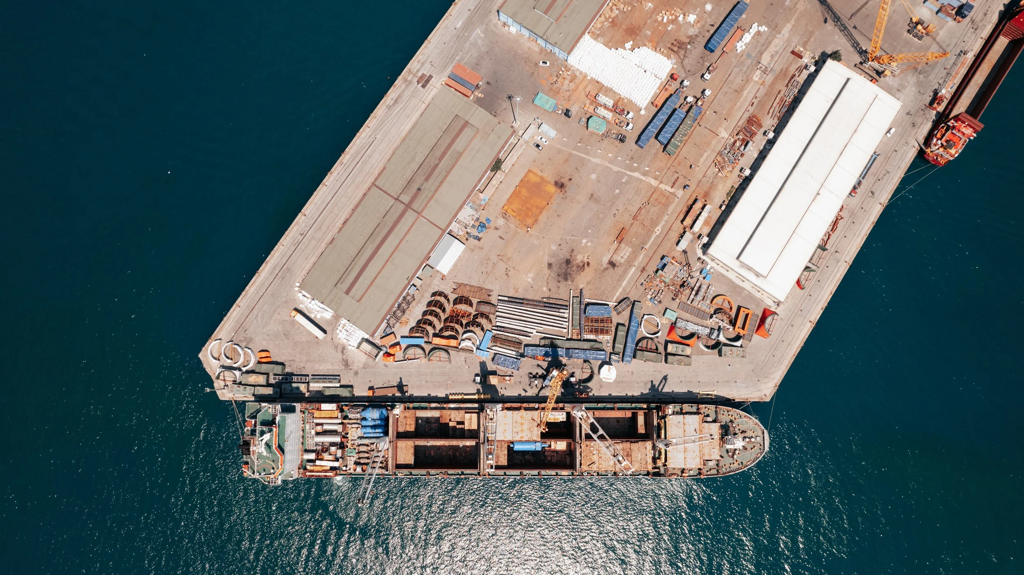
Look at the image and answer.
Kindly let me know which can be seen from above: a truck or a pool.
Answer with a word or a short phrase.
truck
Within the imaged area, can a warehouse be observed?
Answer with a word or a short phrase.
Yes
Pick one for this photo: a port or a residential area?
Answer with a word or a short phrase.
port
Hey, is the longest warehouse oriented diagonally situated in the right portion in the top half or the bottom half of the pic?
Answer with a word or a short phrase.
top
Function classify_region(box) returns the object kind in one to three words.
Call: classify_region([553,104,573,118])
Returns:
vehicle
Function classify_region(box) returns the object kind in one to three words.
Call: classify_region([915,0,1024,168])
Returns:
ship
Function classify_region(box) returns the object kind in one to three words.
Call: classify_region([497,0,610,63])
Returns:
building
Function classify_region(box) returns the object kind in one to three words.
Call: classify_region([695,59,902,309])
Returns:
warehouse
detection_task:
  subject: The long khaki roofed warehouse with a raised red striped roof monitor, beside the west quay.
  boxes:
[299,85,516,338]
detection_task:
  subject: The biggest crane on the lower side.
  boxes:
[528,362,575,433]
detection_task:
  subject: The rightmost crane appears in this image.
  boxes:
[924,50,974,111]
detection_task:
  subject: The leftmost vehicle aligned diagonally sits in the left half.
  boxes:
[290,310,326,339]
